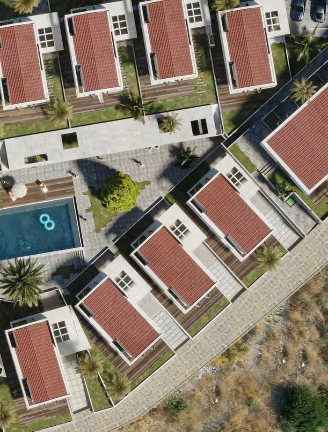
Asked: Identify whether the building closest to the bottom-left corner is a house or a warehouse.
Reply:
house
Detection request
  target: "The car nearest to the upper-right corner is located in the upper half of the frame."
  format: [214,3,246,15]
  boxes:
[310,0,327,24]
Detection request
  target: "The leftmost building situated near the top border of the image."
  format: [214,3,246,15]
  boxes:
[0,13,65,115]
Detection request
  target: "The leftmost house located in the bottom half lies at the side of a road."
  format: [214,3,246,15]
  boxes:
[4,306,91,410]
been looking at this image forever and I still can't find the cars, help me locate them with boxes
[291,0,307,22]
[310,0,327,24]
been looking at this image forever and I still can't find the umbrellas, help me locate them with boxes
[12,182,27,198]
